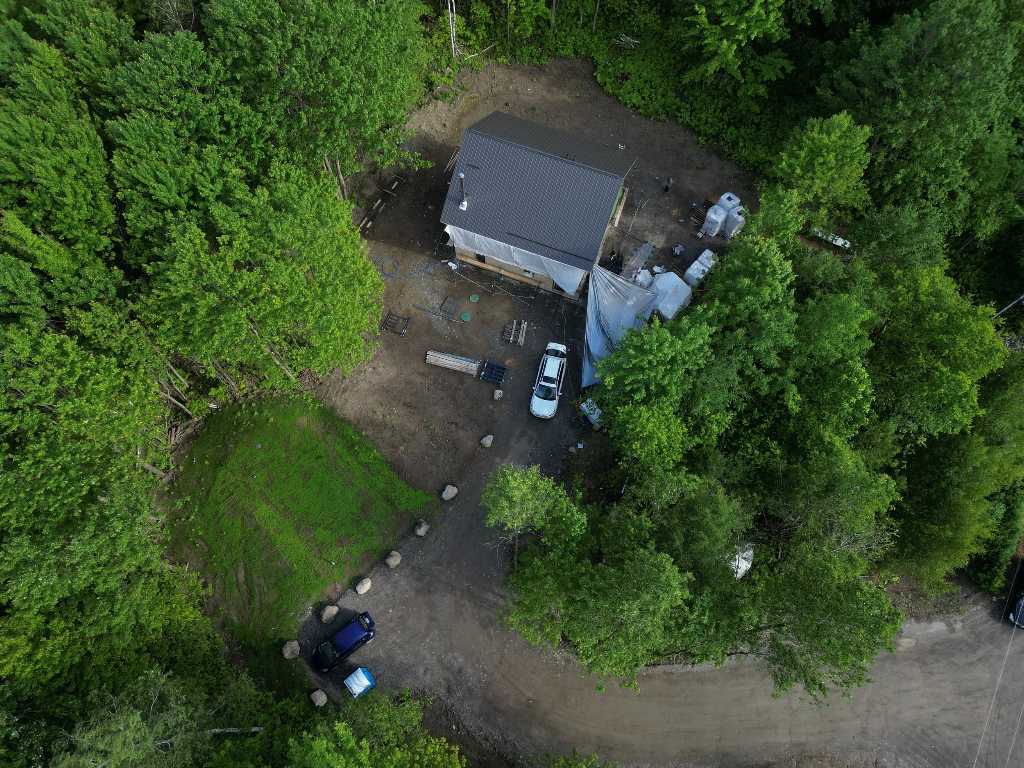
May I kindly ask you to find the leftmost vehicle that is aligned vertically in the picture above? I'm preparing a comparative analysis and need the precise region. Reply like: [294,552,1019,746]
[532,342,569,421]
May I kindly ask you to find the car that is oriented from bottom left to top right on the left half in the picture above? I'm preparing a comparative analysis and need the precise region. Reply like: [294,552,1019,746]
[311,618,383,675]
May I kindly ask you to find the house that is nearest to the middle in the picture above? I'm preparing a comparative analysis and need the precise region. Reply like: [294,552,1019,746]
[441,109,635,300]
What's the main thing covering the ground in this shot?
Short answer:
trees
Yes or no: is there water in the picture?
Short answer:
No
